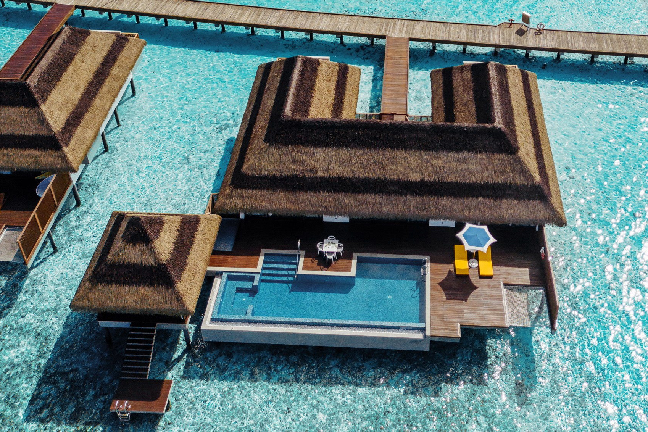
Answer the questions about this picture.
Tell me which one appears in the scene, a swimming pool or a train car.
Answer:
swimming pool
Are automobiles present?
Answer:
No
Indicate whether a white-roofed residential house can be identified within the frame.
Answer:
No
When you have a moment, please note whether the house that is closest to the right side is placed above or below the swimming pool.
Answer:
above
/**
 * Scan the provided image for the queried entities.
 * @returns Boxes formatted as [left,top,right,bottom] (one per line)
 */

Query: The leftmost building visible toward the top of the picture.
[0,24,147,214]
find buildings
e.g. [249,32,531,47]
[213,50,568,231]
[0,24,147,214]
[67,208,224,354]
